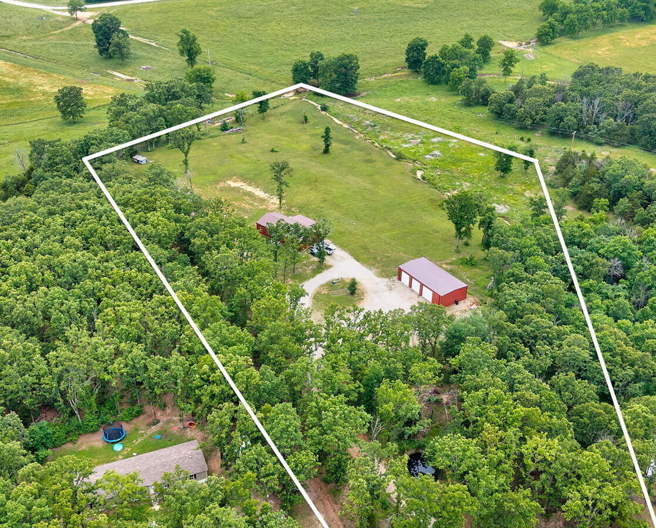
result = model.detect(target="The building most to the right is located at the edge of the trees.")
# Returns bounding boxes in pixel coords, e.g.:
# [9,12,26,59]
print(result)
[397,257,468,309]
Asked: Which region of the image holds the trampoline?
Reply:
bottom left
